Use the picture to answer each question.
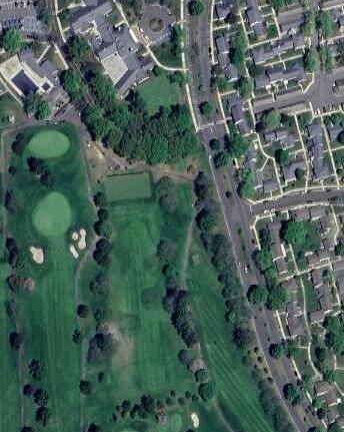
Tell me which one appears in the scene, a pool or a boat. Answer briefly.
pool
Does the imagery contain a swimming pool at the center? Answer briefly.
No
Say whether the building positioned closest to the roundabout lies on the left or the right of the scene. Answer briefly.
left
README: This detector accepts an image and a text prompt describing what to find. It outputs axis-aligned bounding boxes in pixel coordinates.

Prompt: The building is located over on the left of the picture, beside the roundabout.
[69,0,144,87]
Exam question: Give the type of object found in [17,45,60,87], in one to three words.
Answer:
building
